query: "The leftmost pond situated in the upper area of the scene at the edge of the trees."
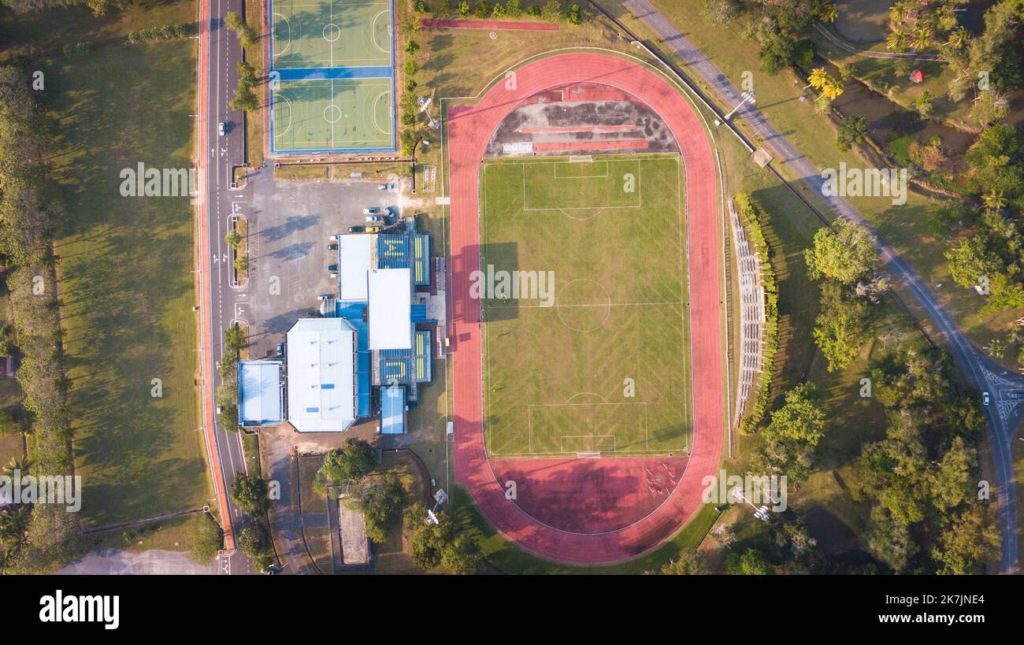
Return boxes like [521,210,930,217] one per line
[832,0,897,45]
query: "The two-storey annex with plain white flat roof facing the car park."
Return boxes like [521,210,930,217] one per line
[339,234,371,299]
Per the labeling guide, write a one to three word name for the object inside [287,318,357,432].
building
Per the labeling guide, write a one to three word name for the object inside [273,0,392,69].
sports court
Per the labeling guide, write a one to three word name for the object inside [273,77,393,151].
sports court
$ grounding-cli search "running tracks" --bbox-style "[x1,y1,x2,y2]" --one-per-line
[447,52,722,565]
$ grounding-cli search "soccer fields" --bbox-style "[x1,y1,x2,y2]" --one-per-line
[479,152,692,458]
